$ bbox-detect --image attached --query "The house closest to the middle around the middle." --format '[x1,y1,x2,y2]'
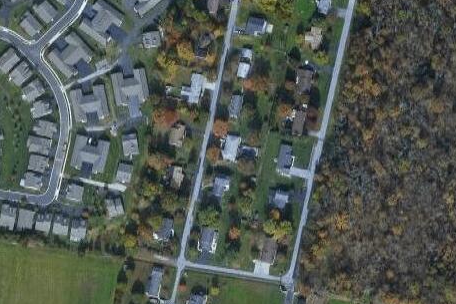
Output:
[222,135,241,160]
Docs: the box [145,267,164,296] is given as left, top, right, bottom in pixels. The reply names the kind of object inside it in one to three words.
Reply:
house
